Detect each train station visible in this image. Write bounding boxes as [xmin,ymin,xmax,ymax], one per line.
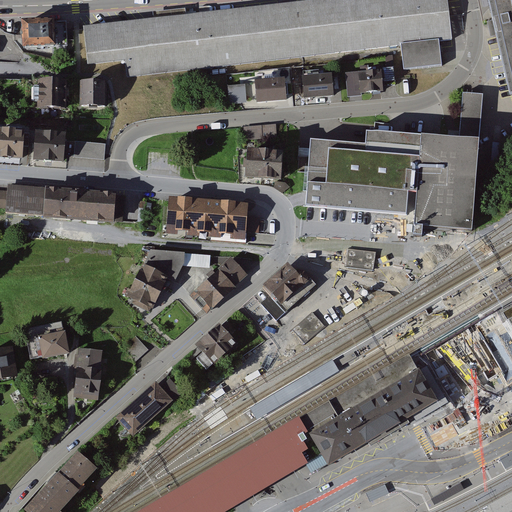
[310,368,438,464]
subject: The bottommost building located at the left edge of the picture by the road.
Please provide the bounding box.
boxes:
[24,472,80,512]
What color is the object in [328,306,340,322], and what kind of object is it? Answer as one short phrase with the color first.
white vehicle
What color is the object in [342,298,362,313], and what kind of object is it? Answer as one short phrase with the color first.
white vehicle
